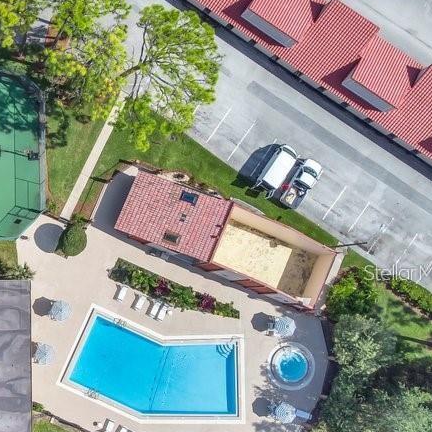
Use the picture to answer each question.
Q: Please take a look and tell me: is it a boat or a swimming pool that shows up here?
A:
swimming pool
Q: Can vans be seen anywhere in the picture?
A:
Yes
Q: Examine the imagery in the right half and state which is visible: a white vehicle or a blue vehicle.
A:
white vehicle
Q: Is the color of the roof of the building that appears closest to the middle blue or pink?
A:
pink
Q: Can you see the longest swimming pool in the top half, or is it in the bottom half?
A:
bottom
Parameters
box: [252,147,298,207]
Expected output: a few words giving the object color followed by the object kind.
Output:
white van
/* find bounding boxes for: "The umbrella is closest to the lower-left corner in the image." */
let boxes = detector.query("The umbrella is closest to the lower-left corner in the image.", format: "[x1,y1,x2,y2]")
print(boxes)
[33,341,56,365]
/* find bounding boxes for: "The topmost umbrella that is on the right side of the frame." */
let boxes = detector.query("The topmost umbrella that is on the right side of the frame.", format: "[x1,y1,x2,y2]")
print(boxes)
[272,313,296,337]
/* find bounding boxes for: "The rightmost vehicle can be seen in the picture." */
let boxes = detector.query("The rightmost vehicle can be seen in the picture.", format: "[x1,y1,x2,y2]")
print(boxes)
[285,160,323,211]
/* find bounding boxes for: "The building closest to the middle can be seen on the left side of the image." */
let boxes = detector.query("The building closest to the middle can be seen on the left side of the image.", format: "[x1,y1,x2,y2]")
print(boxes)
[114,170,231,262]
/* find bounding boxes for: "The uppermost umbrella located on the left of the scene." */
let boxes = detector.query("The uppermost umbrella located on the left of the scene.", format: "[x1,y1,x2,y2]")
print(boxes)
[48,298,72,322]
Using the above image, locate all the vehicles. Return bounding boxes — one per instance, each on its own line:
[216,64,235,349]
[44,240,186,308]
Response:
[252,147,298,207]
[285,160,323,211]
